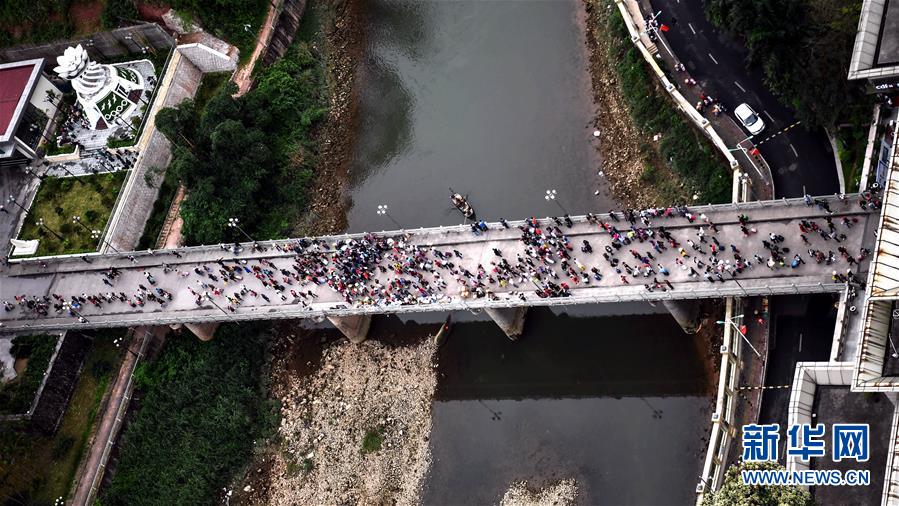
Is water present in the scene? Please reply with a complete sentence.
Yes, some water is visible.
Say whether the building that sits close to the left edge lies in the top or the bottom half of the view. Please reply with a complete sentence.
Seen from above, the building that sits close to the left edge lies in the top half of the view.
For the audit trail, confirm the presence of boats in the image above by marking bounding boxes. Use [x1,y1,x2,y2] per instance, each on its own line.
[444,188,481,220]
[430,311,454,349]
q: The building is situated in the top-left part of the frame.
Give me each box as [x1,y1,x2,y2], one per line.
[0,59,61,158]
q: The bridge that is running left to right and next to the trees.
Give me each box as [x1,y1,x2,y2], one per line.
[0,195,878,342]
